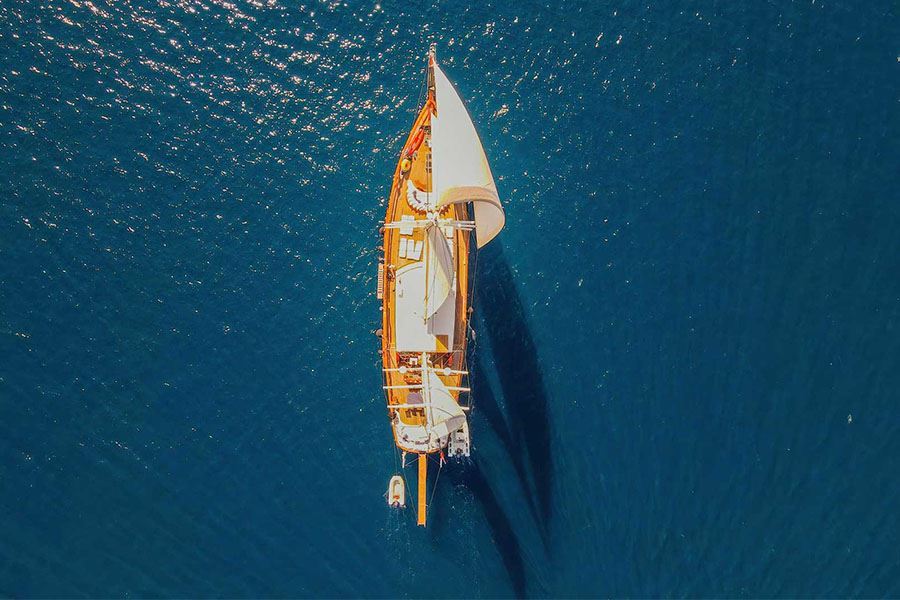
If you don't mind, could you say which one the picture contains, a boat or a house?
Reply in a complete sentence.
Of the two, only a boat appears.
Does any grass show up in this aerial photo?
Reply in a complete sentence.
No, the scene doesn't show any grass.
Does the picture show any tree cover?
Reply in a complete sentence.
No, the picture contains no tree cover.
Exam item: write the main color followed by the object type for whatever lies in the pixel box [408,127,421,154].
red boat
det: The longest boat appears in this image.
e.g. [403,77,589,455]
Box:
[378,40,504,528]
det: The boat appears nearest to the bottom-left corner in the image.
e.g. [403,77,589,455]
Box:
[386,475,405,510]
